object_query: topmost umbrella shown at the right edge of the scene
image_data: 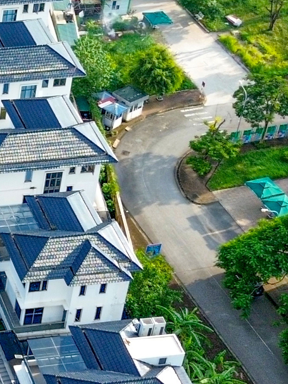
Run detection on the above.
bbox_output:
[243,177,287,206]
